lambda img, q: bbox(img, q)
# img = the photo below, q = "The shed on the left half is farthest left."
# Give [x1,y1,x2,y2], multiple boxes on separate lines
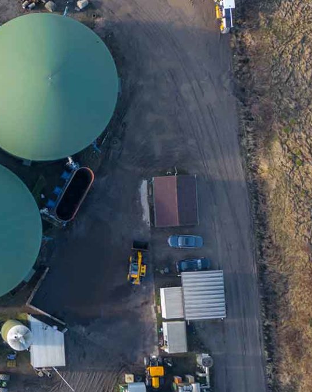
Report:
[24,312,65,368]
